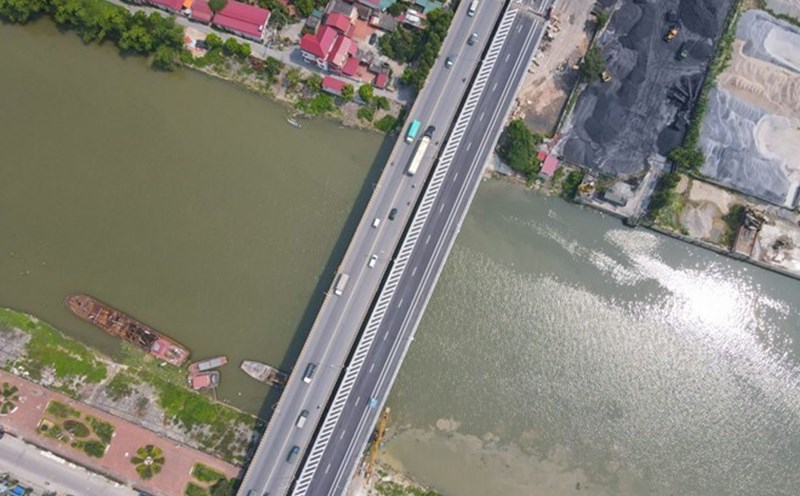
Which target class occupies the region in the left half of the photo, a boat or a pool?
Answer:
boat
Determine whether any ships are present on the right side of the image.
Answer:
No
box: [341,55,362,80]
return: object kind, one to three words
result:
house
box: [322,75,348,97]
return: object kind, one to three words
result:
house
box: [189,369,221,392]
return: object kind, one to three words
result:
boat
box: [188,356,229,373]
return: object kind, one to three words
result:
boat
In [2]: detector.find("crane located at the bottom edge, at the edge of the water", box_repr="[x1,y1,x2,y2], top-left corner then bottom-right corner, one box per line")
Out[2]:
[362,407,391,480]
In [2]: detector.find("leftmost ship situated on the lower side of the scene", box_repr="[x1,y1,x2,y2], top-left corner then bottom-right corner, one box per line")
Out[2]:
[65,300,191,367]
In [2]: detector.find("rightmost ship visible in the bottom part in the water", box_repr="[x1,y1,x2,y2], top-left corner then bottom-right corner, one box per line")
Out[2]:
[241,361,290,384]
